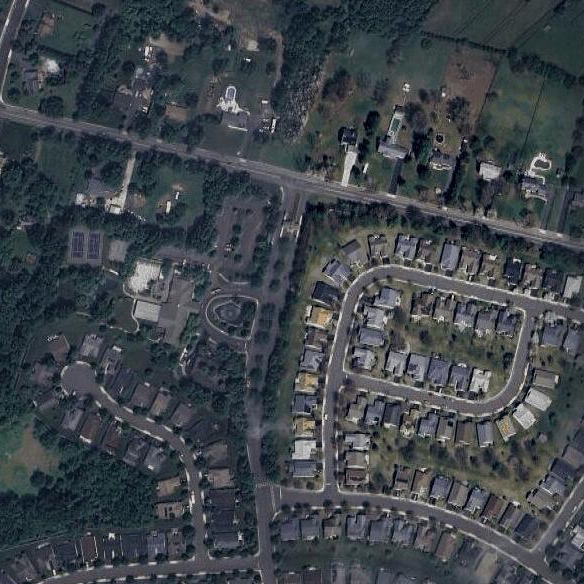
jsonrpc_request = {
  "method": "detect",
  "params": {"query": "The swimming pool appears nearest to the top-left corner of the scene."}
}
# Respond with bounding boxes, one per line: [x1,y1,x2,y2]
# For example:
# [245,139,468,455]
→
[216,86,249,114]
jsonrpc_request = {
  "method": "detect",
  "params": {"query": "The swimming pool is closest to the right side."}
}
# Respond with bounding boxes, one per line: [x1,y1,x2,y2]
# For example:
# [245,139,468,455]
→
[528,157,551,182]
